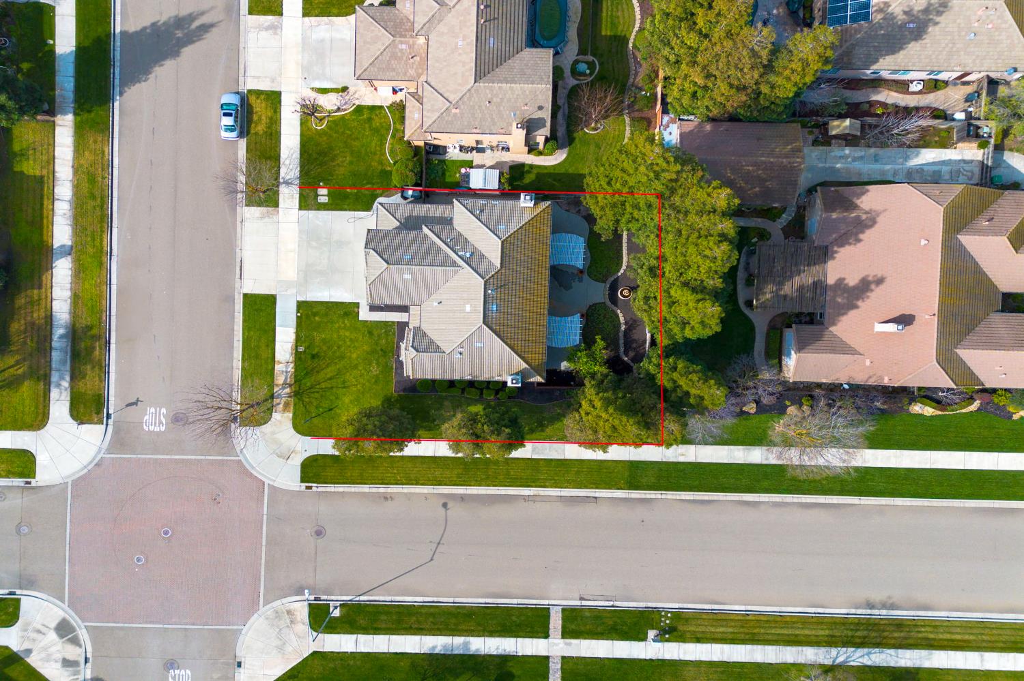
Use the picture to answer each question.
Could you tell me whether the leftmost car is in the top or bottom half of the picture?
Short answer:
top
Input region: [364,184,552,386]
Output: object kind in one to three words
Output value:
house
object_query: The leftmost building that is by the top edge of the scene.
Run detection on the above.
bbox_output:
[354,0,554,159]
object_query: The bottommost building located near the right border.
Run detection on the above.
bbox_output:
[782,182,1024,390]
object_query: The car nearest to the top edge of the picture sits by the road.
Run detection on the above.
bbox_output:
[216,91,241,141]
